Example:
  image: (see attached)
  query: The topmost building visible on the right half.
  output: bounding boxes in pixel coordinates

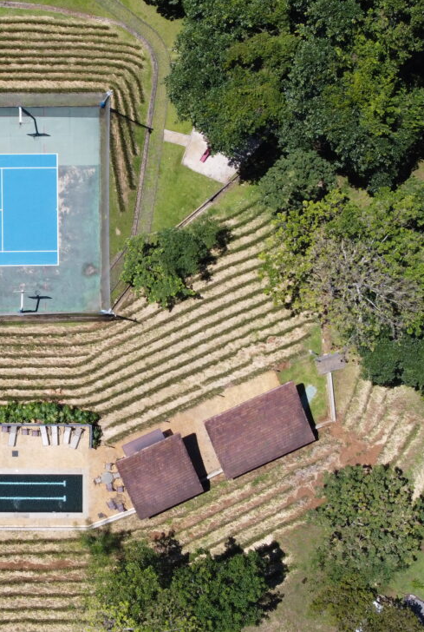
[203,383,316,480]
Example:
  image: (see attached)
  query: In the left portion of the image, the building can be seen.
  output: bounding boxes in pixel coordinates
[115,432,204,520]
